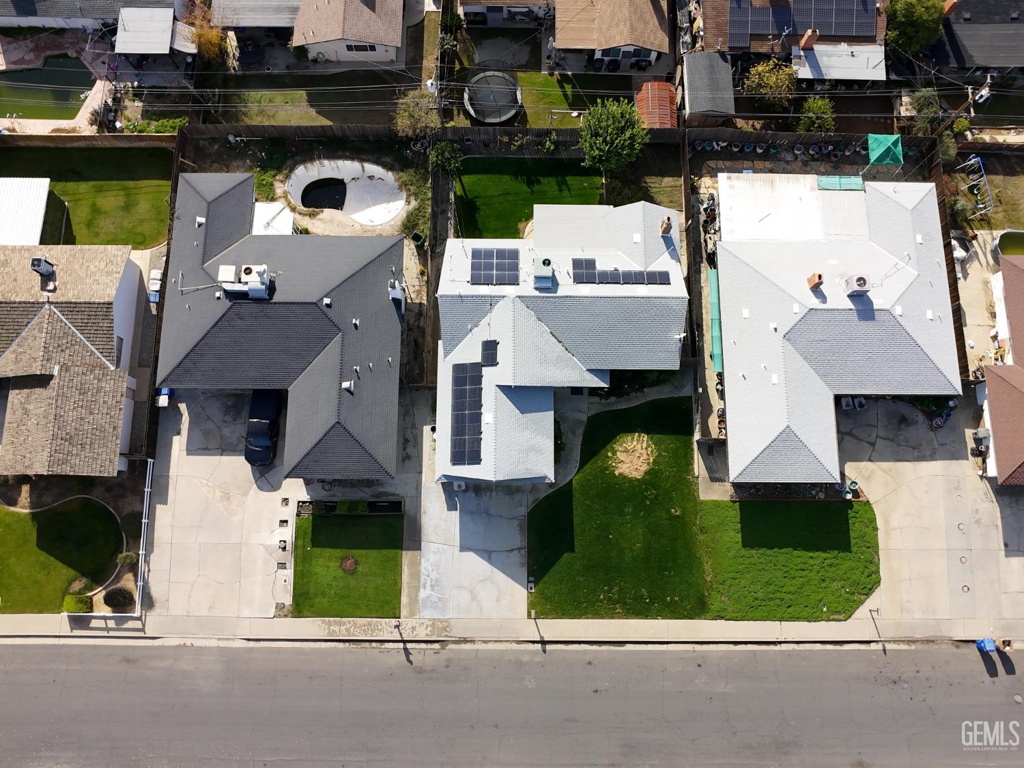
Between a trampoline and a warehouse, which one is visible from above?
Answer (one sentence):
Looking from above, you can make out a trampoline.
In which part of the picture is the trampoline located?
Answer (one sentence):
You can find the trampoline in the top area of the picture.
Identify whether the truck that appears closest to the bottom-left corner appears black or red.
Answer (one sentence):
In this view, the truck that appears closest to the bottom-left corner is black.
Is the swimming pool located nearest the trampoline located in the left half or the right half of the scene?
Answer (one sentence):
You can find the swimming pool located nearest the trampoline on the left side of the picture.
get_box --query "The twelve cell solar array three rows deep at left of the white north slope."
[470,248,520,283]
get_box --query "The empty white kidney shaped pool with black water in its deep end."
[286,152,407,226]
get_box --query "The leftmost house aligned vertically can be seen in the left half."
[0,178,139,477]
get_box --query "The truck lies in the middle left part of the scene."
[238,389,280,473]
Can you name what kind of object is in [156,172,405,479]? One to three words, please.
house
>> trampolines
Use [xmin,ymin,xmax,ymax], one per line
[465,61,520,125]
